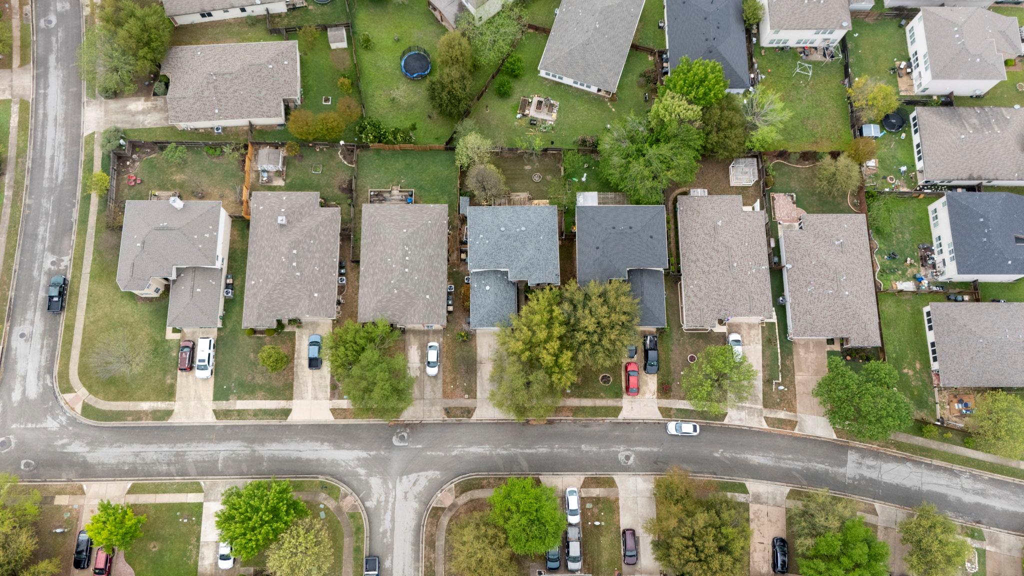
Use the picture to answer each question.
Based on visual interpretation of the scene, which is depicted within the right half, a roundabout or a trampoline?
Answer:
trampoline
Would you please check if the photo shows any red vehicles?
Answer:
Yes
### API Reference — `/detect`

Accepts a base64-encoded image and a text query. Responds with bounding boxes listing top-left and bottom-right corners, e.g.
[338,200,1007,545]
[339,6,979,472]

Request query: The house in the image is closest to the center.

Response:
[467,205,561,330]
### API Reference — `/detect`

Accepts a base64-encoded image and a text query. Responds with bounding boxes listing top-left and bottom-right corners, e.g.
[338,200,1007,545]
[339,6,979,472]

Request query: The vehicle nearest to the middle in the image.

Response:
[424,342,441,377]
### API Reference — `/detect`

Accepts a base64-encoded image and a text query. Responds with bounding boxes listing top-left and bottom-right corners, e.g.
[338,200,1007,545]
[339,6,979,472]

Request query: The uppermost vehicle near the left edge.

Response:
[47,275,69,315]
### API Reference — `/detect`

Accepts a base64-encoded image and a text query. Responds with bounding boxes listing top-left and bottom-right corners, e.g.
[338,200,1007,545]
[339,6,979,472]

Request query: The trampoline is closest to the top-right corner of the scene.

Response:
[886,106,914,132]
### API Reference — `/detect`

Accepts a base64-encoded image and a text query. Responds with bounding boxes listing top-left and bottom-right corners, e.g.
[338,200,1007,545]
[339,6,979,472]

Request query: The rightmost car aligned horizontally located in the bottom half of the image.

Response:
[665,420,701,436]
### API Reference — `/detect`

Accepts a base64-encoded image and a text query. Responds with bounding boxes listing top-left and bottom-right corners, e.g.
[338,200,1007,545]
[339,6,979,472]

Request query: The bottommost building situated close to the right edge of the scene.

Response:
[920,302,1024,388]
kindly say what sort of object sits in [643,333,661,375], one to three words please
vehicle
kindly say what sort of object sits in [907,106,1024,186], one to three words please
house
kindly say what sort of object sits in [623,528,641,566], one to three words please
car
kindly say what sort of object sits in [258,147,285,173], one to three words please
shed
